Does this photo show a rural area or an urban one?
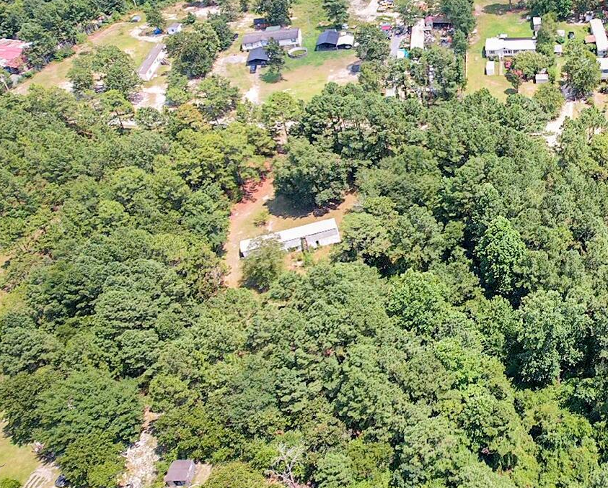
rural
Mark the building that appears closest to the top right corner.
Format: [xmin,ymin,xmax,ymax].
[581,18,608,57]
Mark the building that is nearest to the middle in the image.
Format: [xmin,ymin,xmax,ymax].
[236,217,341,265]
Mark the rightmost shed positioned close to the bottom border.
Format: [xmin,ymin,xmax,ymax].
[159,450,195,488]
